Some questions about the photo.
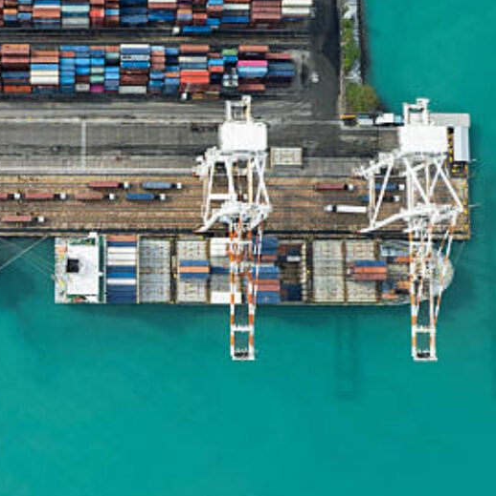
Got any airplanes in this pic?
No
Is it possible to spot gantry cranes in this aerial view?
Yes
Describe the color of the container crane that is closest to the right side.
white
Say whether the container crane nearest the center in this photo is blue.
No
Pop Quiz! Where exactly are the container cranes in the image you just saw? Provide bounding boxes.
[349,99,469,362]
[191,98,273,361]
